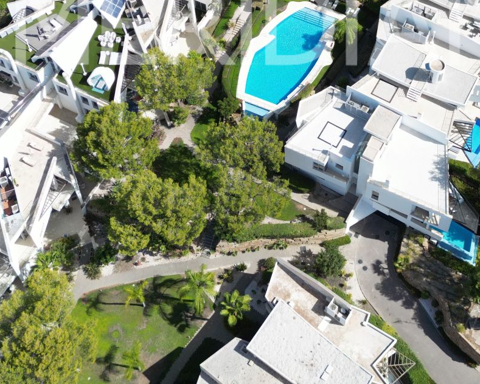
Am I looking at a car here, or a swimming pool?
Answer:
swimming pool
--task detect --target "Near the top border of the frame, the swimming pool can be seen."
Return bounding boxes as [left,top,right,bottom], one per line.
[243,6,340,107]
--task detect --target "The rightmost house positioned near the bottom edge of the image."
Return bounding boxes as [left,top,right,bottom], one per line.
[196,260,416,384]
